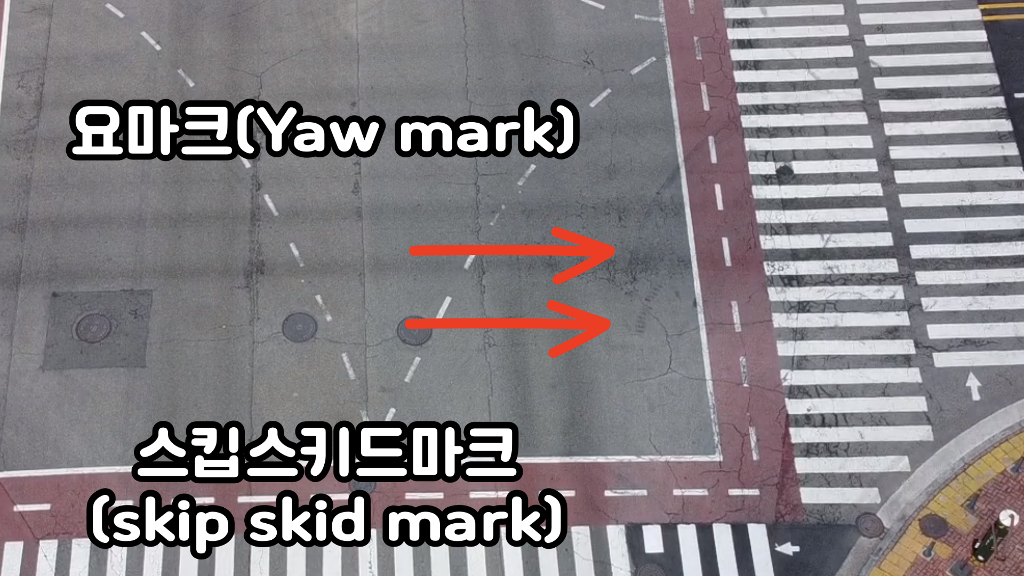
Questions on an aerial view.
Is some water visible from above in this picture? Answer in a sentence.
No, there's no water in this view.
